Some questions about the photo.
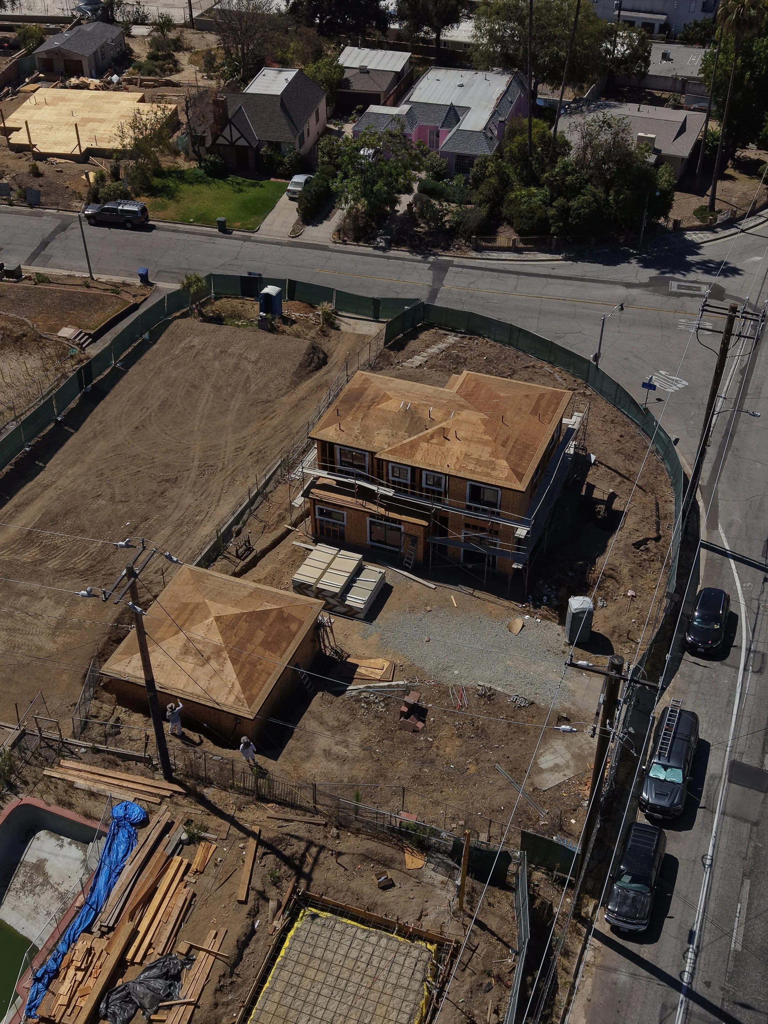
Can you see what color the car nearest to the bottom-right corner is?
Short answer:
black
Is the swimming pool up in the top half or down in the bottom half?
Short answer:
bottom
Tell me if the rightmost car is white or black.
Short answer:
black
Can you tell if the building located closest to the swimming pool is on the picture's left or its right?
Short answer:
left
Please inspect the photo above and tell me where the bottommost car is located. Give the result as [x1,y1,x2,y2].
[602,812,671,938]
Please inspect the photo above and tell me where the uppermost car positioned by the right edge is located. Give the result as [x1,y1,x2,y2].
[684,576,736,657]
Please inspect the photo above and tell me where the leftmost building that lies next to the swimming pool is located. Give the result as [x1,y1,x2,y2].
[98,567,326,756]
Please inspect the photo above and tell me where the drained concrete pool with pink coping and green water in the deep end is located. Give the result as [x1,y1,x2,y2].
[0,799,115,1024]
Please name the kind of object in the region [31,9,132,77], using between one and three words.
building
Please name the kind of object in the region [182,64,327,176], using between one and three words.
house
